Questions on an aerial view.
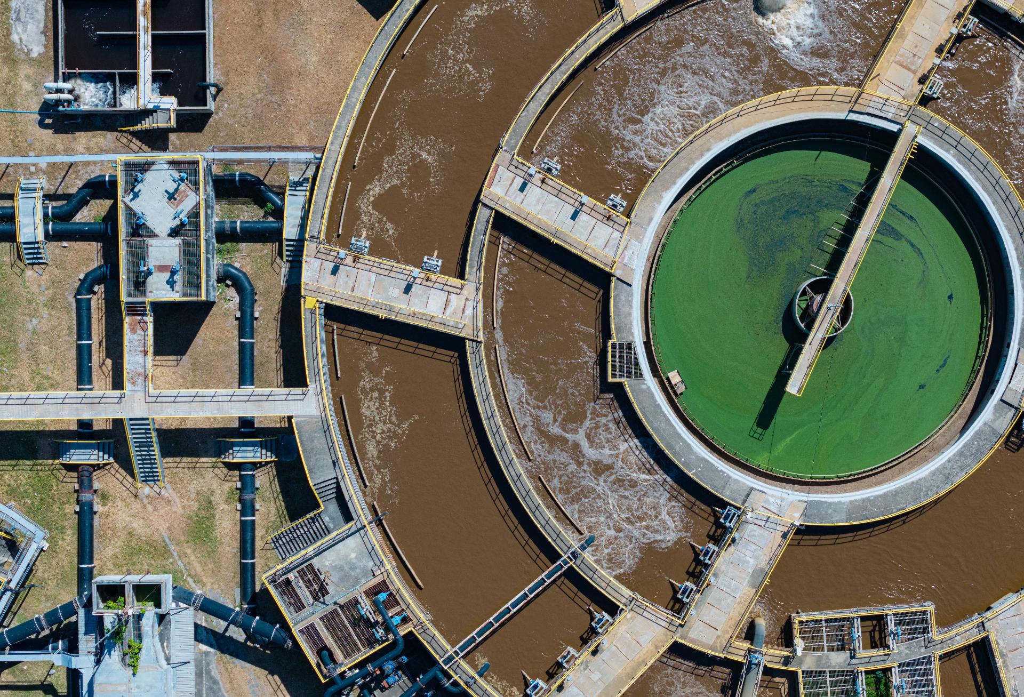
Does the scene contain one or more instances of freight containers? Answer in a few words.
No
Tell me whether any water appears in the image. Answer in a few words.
Yes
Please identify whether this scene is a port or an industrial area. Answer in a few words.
industrial area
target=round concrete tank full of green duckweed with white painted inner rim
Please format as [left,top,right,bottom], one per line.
[607,87,1024,526]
